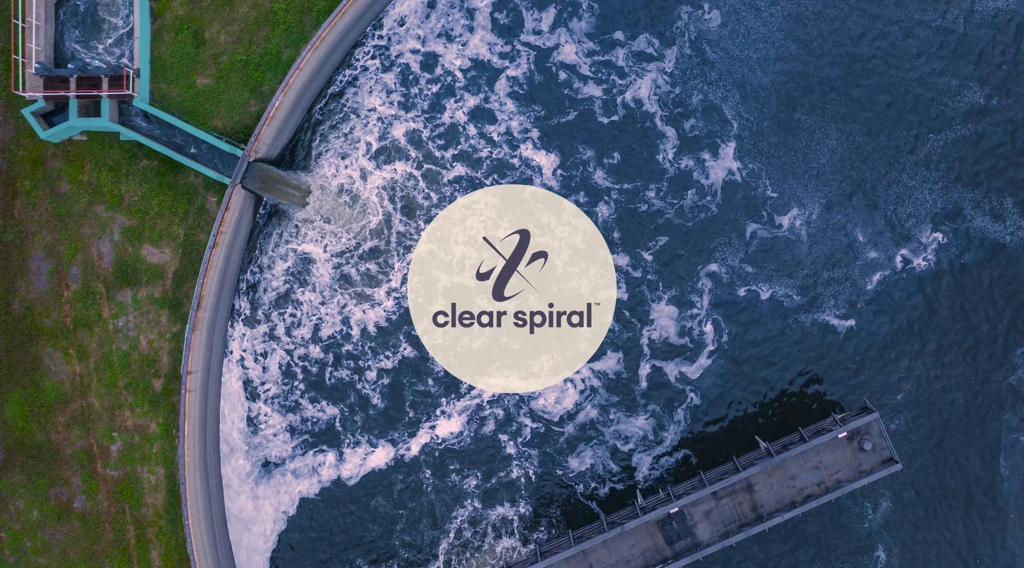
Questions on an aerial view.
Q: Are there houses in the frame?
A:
No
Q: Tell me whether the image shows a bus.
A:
No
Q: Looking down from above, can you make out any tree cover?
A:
No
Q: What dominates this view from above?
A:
water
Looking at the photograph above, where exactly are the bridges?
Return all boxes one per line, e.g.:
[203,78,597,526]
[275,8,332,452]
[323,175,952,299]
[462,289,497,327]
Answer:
[490,393,904,568]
